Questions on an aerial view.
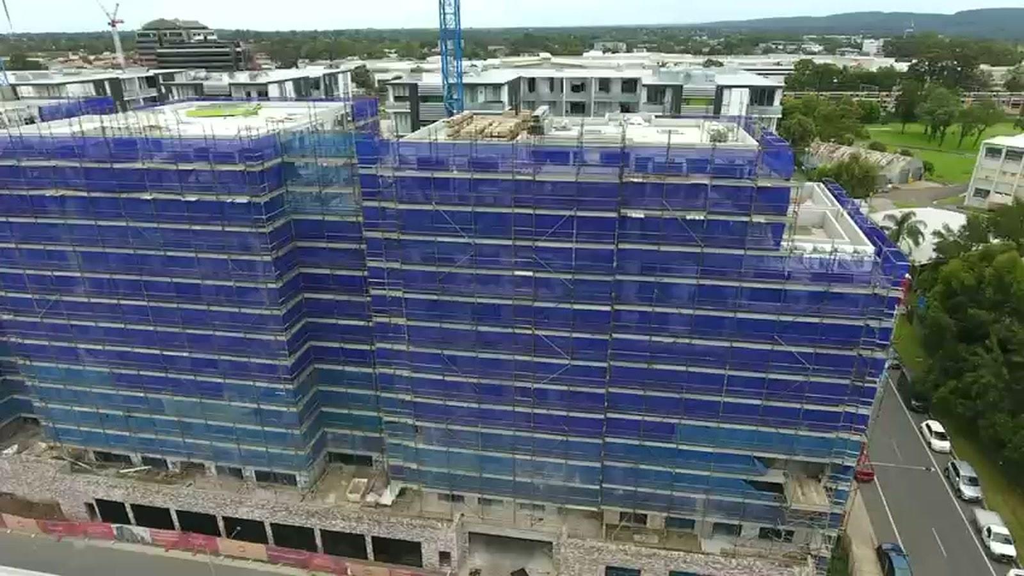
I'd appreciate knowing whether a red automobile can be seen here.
No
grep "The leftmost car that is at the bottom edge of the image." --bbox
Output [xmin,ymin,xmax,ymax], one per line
[874,547,911,576]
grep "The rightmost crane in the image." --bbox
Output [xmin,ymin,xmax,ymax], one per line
[435,0,461,113]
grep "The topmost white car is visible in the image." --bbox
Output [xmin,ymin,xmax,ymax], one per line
[921,423,952,456]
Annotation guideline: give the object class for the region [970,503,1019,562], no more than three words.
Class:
truck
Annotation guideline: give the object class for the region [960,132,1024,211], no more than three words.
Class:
building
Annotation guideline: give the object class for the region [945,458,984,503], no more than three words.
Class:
car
